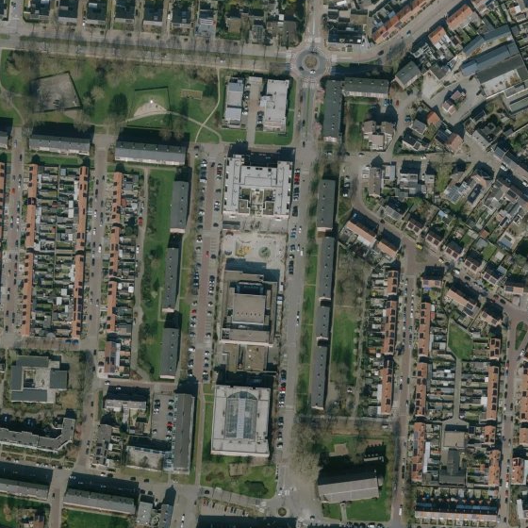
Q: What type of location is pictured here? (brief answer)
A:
residential area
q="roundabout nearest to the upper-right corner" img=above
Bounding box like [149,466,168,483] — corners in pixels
[290,41,332,81]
